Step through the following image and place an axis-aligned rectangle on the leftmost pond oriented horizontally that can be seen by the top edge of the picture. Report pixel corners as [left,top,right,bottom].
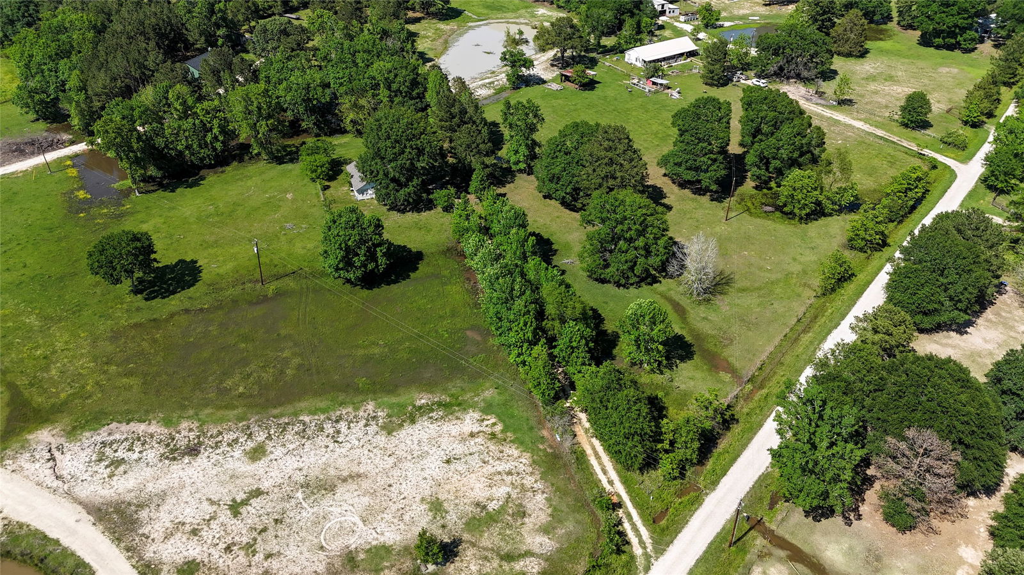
[443,24,545,80]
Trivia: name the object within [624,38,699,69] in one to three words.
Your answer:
house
